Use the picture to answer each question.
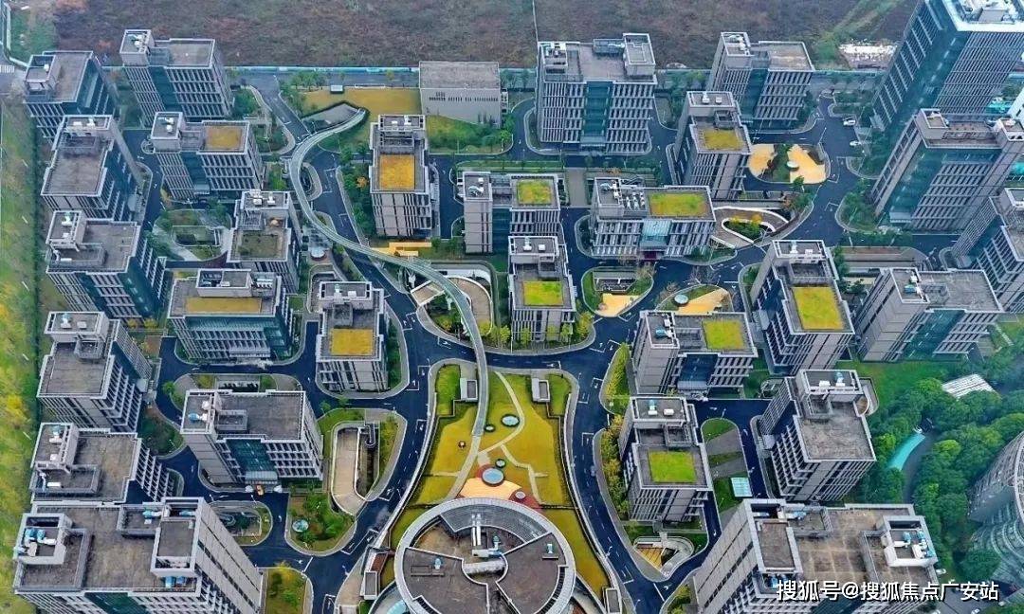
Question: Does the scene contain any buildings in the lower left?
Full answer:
Yes, a building shows up in the lower left.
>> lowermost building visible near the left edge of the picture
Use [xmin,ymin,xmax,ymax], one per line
[15,497,260,614]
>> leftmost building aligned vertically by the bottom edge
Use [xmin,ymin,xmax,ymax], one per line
[364,572,379,602]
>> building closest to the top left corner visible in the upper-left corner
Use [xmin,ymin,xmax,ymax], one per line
[24,51,117,145]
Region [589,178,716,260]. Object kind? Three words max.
building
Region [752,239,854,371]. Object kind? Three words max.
building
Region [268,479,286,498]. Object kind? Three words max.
car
